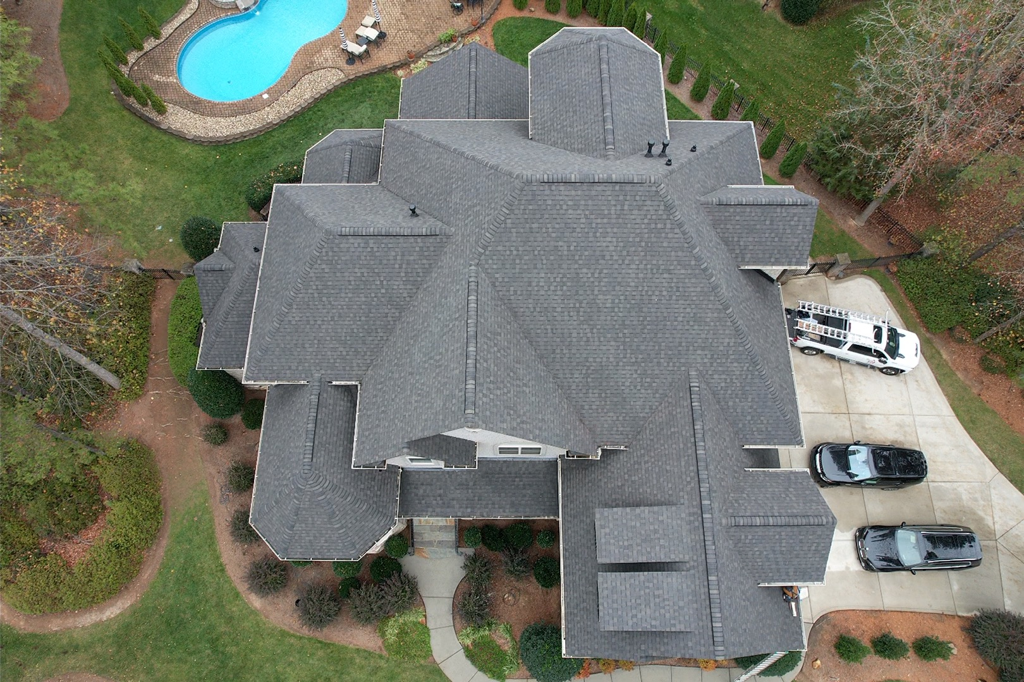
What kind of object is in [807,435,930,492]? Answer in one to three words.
car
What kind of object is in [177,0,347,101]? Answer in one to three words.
swimming pool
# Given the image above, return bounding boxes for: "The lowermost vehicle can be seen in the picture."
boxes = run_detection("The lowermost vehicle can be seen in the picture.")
[852,517,983,578]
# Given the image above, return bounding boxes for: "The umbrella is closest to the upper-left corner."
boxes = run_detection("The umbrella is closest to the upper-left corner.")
[340,26,356,64]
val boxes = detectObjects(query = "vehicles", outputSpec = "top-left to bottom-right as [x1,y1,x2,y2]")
[852,517,983,578]
[776,296,918,376]
[807,435,930,492]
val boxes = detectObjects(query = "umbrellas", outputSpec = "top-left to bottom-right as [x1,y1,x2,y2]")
[340,26,356,64]
[374,0,387,40]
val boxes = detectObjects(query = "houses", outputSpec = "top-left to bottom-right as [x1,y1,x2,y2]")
[192,25,837,659]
